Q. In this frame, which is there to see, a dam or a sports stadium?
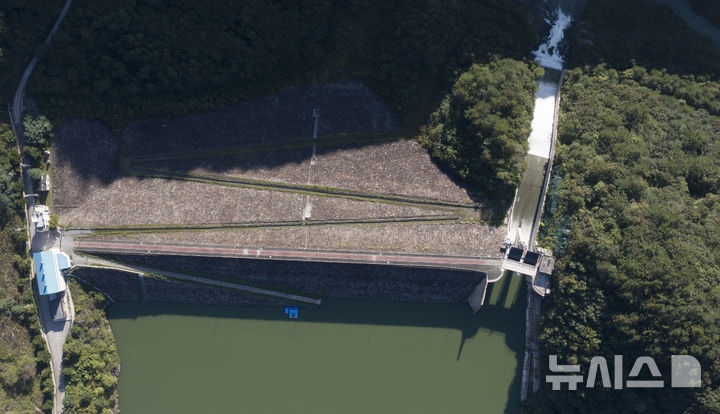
dam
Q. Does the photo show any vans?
No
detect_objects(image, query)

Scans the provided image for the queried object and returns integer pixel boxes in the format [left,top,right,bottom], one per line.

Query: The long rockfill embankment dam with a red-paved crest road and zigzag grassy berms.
[53,84,507,312]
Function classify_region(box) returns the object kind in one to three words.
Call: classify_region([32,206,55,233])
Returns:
building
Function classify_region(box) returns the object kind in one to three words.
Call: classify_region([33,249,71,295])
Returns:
building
